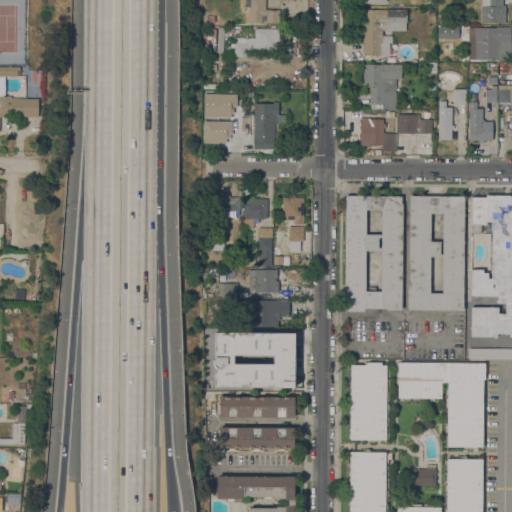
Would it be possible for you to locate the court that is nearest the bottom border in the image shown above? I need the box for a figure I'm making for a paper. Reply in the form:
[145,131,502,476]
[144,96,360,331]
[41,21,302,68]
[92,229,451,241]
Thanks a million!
[23,67,41,98]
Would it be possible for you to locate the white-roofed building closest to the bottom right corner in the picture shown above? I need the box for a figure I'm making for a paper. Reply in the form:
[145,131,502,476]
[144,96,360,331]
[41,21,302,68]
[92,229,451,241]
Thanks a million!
[448,459,485,512]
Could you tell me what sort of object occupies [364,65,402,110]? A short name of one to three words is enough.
house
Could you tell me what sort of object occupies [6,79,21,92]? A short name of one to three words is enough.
swimming pool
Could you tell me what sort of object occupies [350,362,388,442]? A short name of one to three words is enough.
building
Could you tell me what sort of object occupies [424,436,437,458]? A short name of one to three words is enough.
swimming pool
